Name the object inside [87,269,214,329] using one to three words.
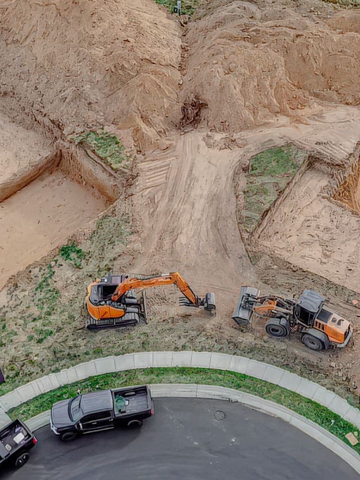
work vehicle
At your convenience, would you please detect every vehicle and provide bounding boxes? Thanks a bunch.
[0,421,33,480]
[50,382,154,440]
[87,269,214,329]
[231,288,352,352]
